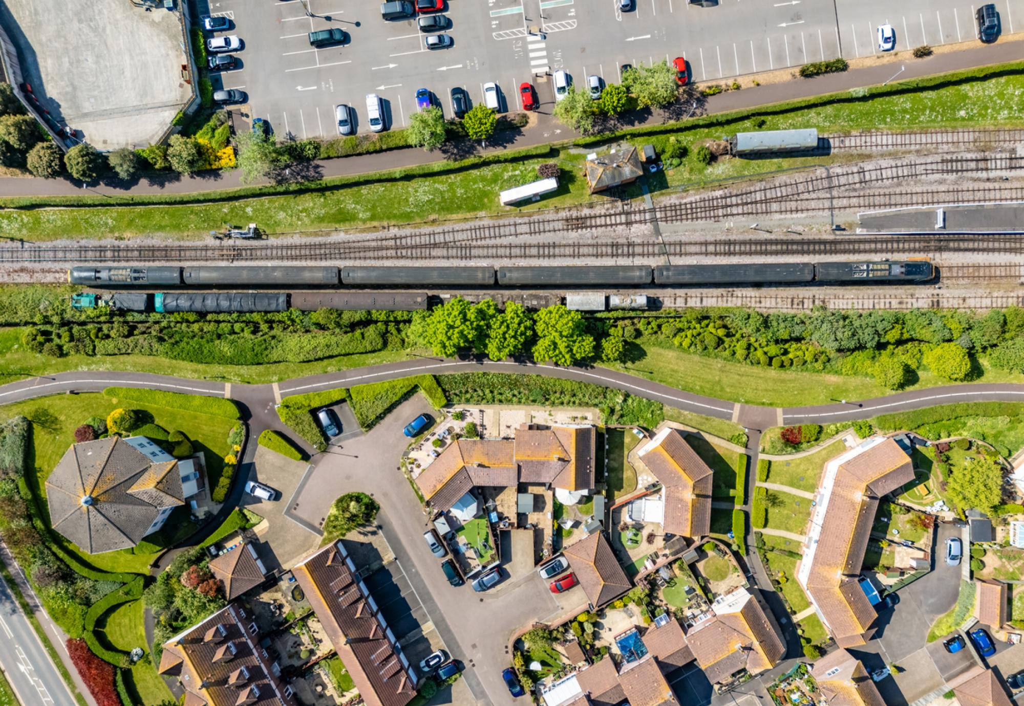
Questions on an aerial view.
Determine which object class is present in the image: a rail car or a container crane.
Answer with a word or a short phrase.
rail car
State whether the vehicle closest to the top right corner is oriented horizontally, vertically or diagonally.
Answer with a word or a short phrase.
vertically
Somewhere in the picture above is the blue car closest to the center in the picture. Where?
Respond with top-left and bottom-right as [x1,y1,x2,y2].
[402,412,430,439]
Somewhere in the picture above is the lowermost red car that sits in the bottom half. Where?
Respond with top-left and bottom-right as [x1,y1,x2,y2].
[548,571,579,594]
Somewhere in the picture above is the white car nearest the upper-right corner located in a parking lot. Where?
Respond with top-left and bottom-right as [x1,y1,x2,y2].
[877,22,895,52]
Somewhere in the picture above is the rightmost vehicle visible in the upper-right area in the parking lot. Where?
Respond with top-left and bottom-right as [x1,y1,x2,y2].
[980,2,1000,43]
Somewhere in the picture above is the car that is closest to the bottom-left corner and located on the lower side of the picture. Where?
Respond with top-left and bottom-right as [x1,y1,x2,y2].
[244,480,278,503]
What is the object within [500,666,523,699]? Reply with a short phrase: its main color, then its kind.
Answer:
blue car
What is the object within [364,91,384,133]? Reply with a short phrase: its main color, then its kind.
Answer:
white vehicle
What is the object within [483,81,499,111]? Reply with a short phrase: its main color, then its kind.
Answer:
white car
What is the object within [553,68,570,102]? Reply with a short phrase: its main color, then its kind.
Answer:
white car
